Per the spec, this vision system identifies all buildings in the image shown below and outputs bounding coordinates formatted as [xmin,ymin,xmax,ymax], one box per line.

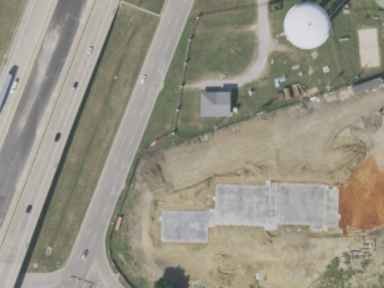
[200,92,232,118]
[346,78,384,96]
